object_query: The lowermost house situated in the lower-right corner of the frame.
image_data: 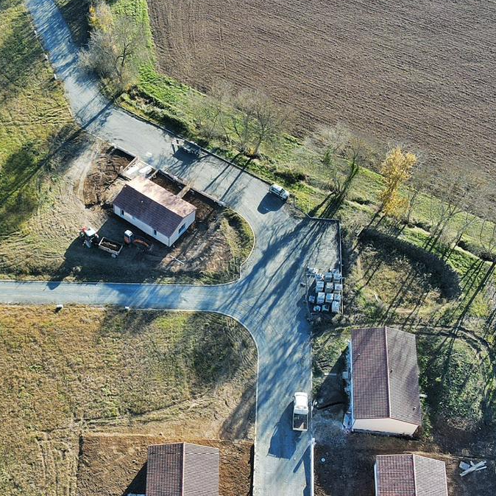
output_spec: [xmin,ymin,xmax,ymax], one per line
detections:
[374,455,449,496]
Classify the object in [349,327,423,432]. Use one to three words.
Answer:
house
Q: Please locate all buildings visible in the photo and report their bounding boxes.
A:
[113,175,196,253]
[374,455,449,496]
[145,442,220,496]
[349,327,423,432]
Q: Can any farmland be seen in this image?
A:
Yes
